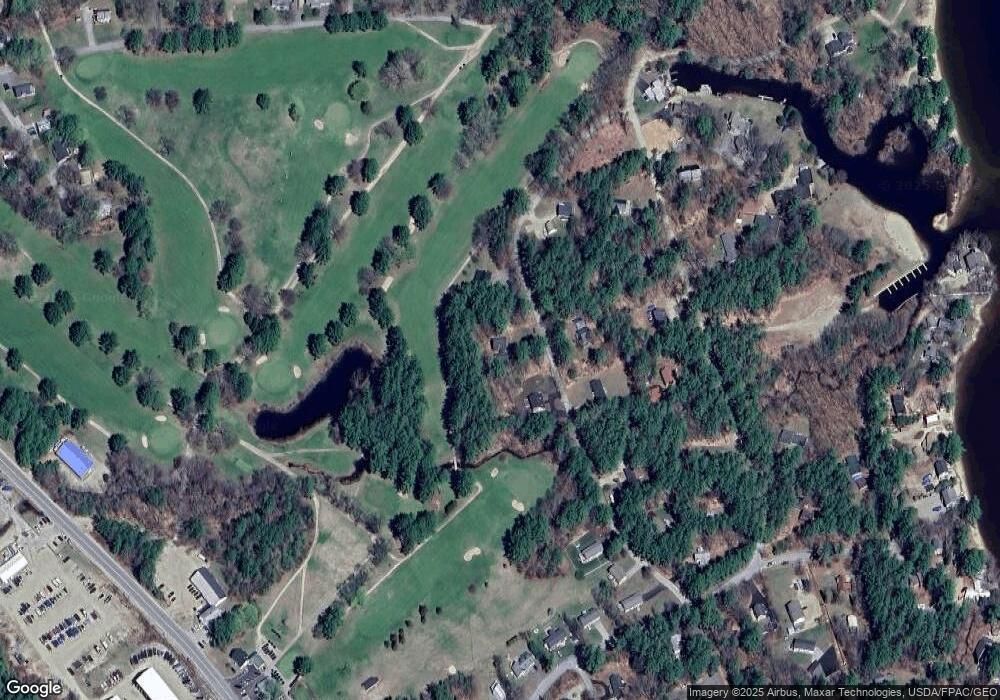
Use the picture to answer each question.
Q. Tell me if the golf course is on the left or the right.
left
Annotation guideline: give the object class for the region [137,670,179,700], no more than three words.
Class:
building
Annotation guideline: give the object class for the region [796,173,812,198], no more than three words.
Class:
house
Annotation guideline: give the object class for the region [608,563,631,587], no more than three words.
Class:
house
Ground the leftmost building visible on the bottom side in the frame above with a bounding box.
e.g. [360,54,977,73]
[0,550,30,587]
